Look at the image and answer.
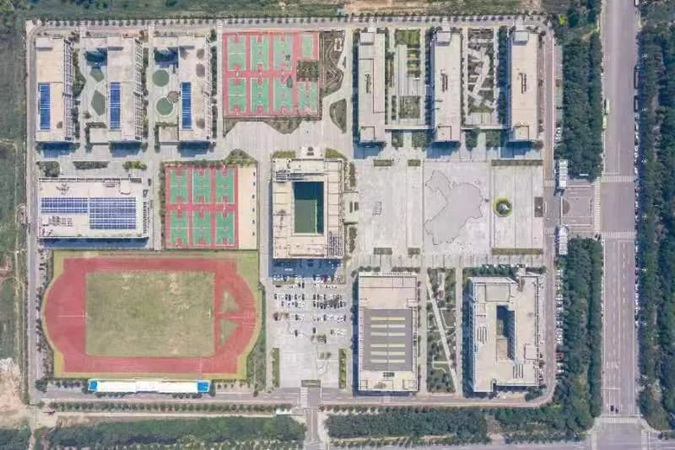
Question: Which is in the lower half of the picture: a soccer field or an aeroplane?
soccer field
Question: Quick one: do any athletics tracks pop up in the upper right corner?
No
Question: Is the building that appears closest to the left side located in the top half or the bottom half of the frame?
top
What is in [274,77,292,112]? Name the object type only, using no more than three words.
basketball court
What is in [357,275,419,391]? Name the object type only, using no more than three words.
building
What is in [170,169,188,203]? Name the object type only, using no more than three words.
basketball court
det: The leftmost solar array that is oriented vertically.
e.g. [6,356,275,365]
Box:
[38,83,50,128]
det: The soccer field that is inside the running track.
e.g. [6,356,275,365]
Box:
[86,270,214,358]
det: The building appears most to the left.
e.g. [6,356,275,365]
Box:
[35,37,76,144]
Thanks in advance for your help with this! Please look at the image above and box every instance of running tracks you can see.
[40,252,261,379]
